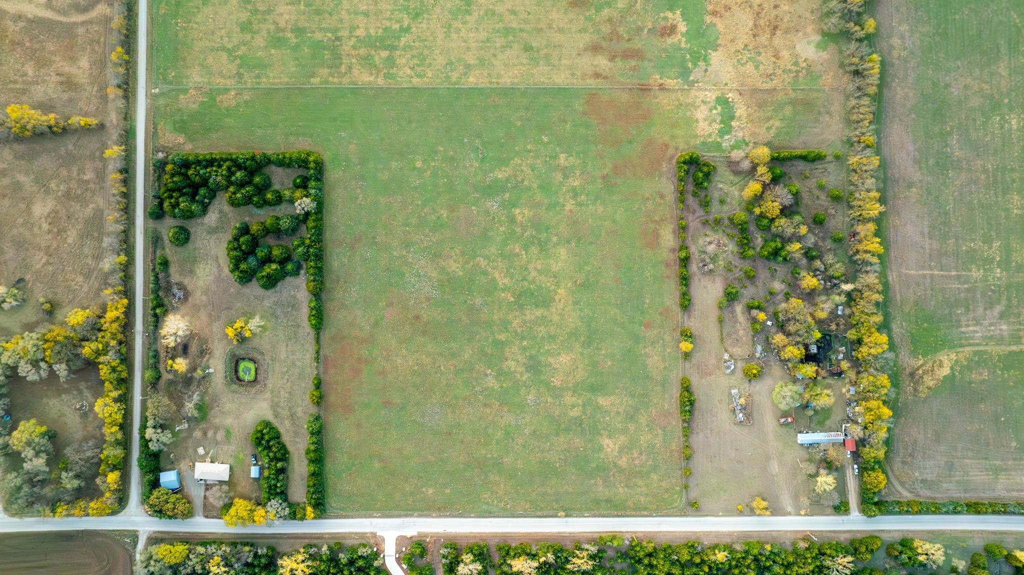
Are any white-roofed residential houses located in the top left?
No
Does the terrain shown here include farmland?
Yes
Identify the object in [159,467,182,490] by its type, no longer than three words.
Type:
building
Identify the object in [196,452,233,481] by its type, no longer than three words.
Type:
house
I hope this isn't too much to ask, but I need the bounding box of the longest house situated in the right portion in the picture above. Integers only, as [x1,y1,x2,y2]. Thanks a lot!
[796,431,843,447]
